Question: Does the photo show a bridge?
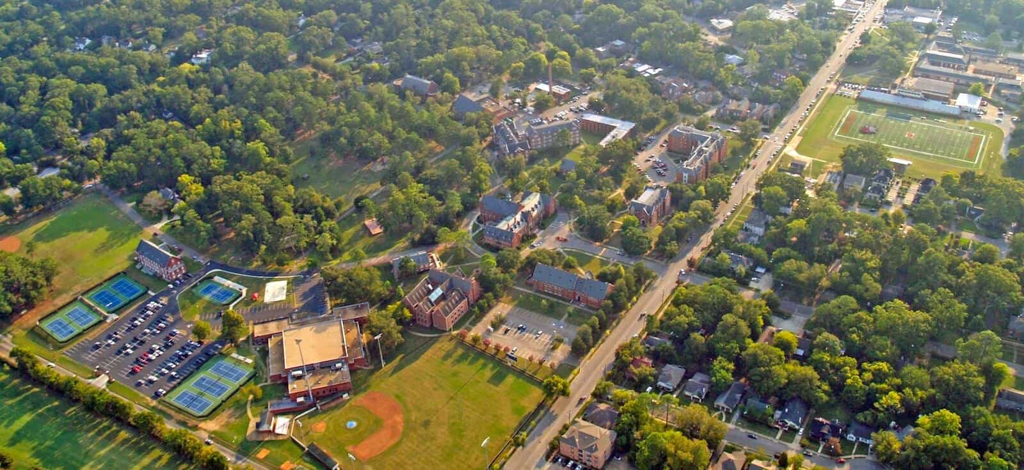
No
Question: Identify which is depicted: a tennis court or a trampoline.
tennis court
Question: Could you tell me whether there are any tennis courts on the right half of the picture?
No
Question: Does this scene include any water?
No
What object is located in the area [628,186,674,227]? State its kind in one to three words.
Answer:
building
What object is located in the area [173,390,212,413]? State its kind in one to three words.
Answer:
tennis court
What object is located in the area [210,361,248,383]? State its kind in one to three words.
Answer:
tennis court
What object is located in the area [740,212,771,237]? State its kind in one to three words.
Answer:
house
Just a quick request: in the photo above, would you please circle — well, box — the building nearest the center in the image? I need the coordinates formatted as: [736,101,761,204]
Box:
[475,188,557,255]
